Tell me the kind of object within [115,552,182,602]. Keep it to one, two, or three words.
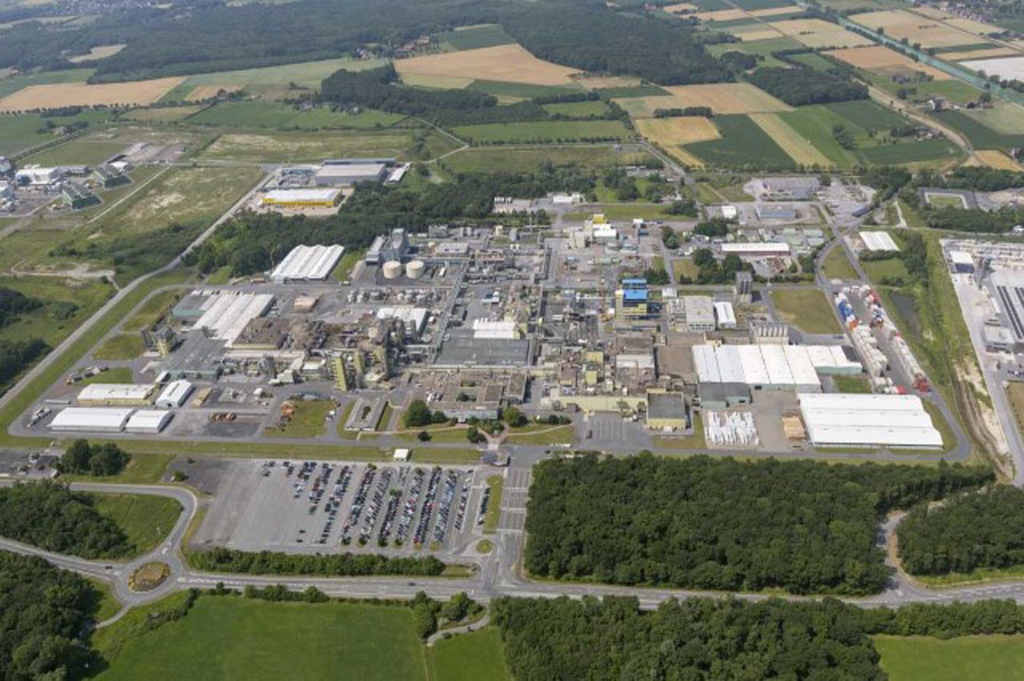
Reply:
roundabout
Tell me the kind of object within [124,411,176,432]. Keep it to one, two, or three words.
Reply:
building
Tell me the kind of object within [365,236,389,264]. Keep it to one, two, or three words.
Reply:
building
